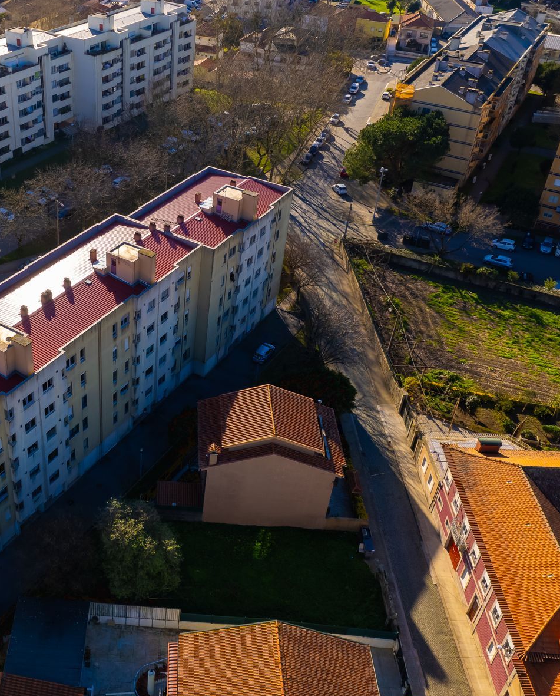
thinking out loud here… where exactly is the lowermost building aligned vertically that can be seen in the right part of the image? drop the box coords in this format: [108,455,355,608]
[432,458,560,696]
